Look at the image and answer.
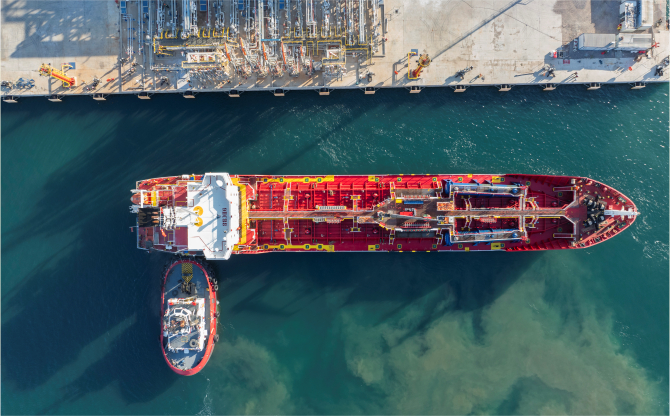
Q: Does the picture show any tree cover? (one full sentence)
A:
No, no tree cover is visible.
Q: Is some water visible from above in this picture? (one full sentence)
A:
Yes, there's water in this view.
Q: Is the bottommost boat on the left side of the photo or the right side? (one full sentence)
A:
The bottommost boat appears in the left half of the scene.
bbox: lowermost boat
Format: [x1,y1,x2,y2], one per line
[158,258,221,375]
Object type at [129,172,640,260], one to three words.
ship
